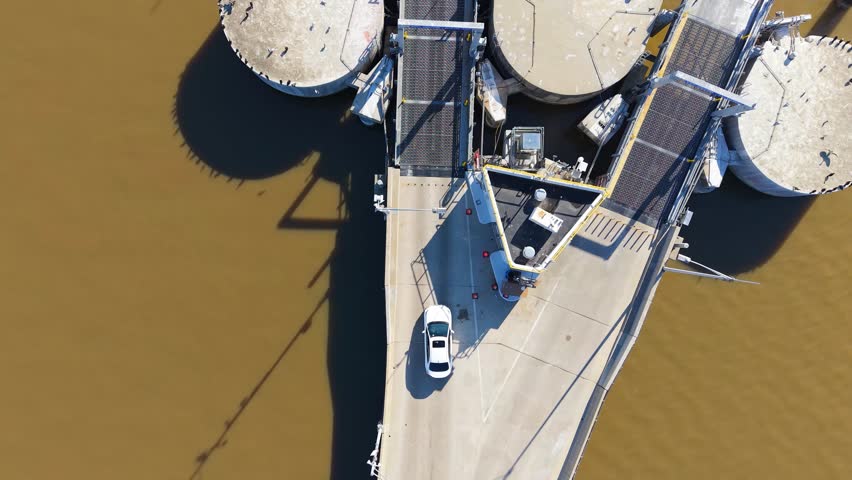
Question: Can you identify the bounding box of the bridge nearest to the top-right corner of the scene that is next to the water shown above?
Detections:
[594,0,777,235]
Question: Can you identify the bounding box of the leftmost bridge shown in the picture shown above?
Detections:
[397,0,480,176]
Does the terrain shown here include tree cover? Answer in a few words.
No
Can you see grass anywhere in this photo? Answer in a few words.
No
